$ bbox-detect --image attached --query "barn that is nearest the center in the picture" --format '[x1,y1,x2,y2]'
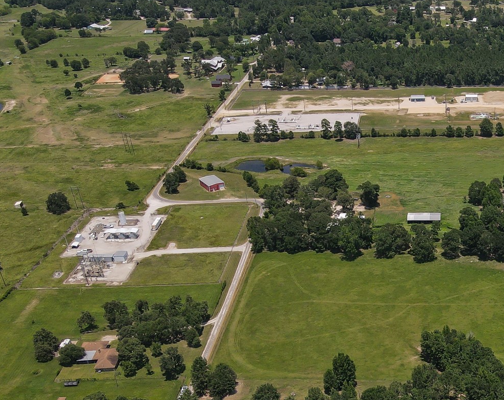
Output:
[200,175,225,193]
